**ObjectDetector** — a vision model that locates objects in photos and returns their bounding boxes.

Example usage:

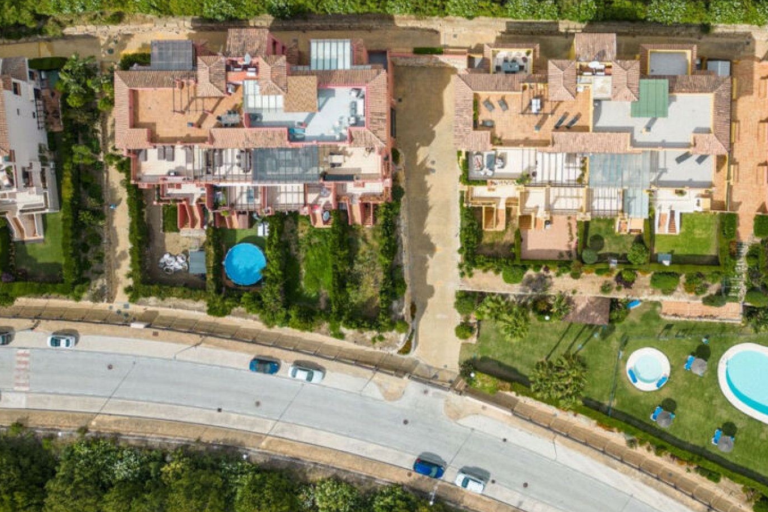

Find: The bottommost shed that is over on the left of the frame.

[189,252,209,274]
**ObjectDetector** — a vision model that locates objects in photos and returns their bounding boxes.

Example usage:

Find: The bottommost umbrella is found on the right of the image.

[716,435,734,453]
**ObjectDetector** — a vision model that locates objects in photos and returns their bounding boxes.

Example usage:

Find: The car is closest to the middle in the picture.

[287,365,325,383]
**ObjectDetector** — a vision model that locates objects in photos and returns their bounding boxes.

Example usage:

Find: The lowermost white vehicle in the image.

[454,470,488,492]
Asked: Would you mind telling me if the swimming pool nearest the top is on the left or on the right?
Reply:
left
